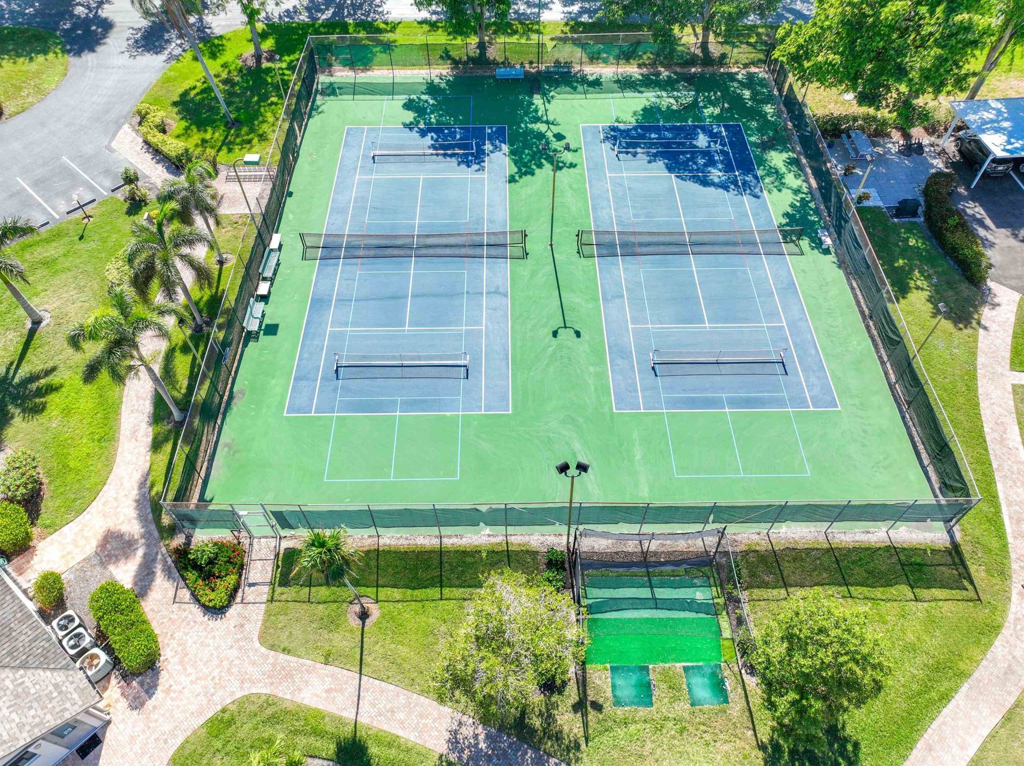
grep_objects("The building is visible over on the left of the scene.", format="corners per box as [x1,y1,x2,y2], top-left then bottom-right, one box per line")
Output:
[0,562,110,766]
